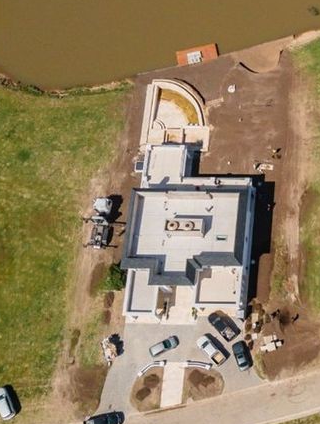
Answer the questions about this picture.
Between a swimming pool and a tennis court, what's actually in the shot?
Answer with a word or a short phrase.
swimming pool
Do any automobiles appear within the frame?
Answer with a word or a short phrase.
Yes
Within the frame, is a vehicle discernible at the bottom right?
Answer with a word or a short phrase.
Yes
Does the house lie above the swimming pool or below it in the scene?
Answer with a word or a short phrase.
below it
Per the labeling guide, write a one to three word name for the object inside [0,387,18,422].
car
